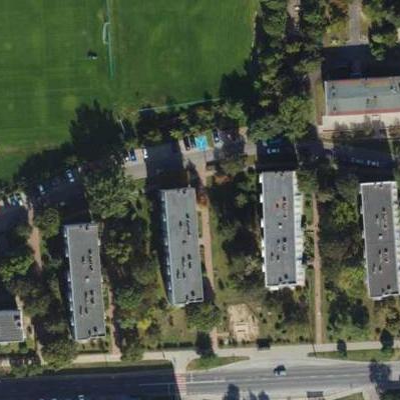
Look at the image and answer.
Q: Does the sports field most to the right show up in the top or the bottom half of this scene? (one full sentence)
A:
Seen from above, the sports field most to the right lies in the top half of the view.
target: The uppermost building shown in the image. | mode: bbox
[322,77,400,134]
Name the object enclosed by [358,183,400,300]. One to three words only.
building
